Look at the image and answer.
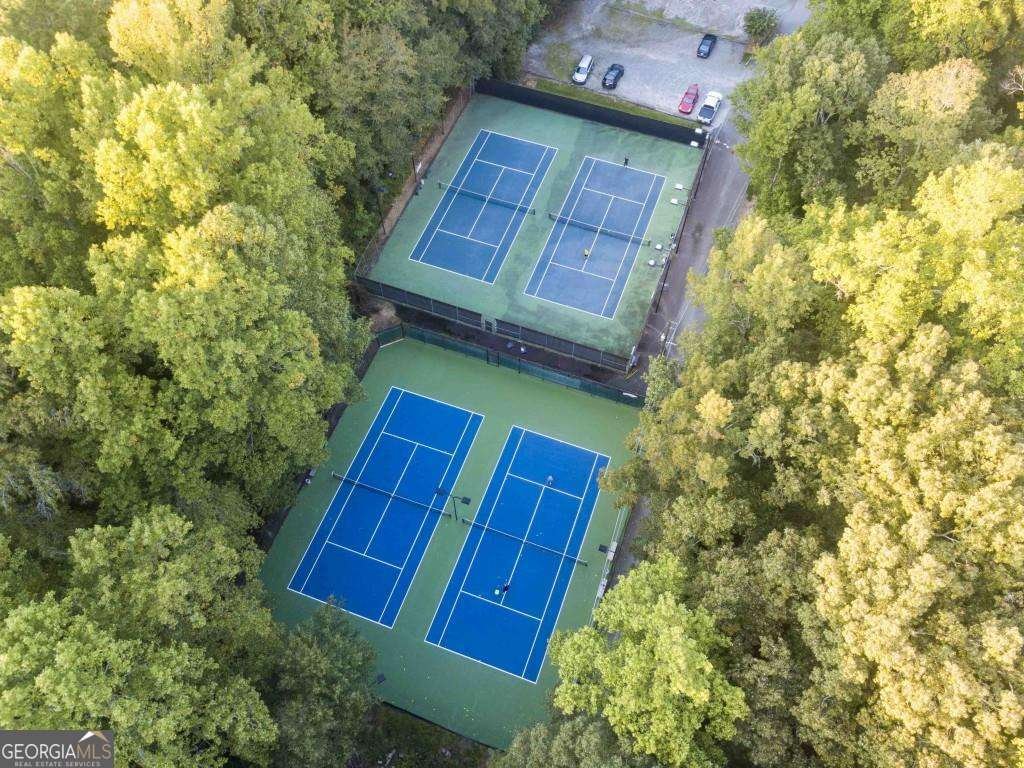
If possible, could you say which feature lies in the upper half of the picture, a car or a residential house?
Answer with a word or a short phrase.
car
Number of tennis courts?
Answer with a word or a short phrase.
4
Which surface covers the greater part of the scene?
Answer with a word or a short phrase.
trees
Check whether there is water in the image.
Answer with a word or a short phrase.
No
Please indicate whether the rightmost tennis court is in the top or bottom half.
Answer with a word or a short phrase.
top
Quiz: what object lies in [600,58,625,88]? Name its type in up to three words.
car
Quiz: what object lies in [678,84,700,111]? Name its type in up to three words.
car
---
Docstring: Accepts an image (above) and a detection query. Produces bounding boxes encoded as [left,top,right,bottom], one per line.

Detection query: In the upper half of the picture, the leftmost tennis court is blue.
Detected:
[409,129,558,284]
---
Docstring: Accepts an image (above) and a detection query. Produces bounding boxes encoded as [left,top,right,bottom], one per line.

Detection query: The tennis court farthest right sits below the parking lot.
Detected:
[523,156,666,320]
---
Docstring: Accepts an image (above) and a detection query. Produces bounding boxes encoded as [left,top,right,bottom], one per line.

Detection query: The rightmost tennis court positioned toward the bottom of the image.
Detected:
[424,425,612,684]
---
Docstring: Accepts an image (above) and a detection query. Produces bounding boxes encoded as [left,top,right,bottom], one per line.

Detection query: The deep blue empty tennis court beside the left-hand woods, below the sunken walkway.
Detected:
[288,386,485,629]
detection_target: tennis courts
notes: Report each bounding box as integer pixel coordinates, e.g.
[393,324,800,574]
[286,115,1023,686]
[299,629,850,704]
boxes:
[424,425,612,684]
[288,386,485,629]
[409,129,558,284]
[523,156,666,320]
